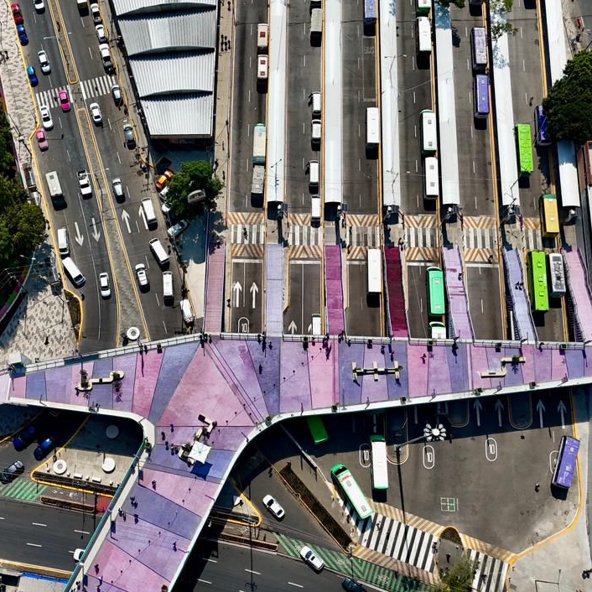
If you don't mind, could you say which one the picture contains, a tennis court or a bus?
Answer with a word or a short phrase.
bus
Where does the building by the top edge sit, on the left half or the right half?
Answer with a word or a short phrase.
left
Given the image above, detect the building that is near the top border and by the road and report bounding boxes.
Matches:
[114,0,217,151]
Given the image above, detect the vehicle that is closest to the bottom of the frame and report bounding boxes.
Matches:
[341,576,367,592]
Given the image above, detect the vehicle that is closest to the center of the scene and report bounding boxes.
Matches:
[309,316,322,336]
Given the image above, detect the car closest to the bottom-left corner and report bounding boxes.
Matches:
[72,548,88,561]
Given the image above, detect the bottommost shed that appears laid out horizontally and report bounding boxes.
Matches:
[19,571,69,592]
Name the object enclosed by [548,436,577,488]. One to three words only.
bus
